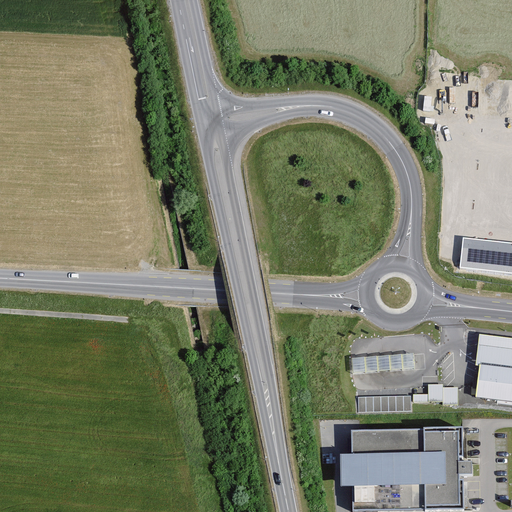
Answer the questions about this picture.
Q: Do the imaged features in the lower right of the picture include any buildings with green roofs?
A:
No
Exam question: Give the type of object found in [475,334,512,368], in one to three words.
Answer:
building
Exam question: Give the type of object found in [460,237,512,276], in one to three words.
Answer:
building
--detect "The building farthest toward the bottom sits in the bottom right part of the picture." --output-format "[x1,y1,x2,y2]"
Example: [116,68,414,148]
[340,426,473,510]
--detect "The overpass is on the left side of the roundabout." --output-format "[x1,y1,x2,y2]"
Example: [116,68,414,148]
[214,239,272,343]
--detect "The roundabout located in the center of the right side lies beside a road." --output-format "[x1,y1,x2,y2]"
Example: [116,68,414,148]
[358,254,434,330]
